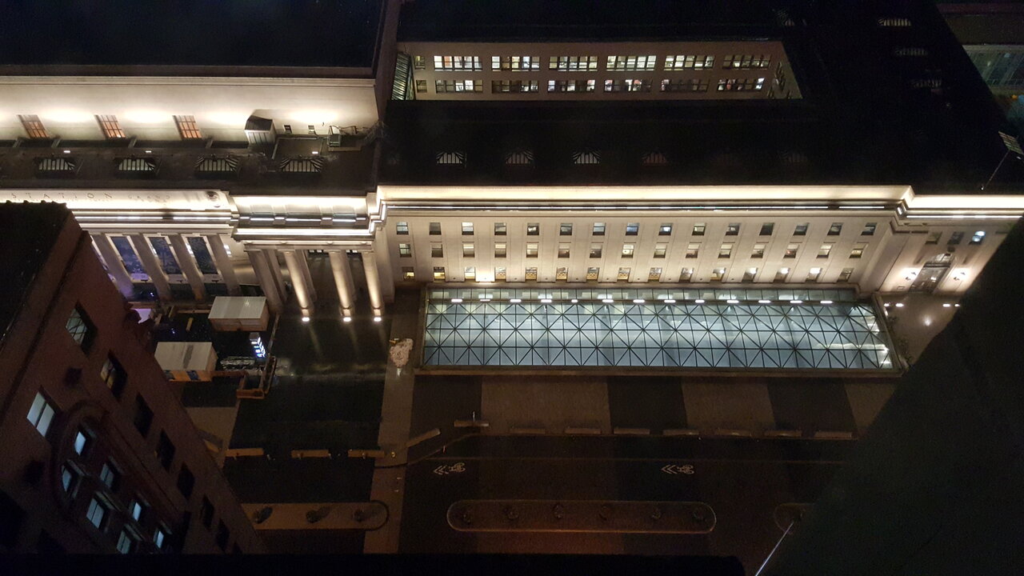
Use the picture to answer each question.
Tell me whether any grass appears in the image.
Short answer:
No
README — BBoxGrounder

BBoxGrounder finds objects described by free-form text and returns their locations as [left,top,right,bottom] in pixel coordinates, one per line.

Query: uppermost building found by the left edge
[0,0,400,315]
